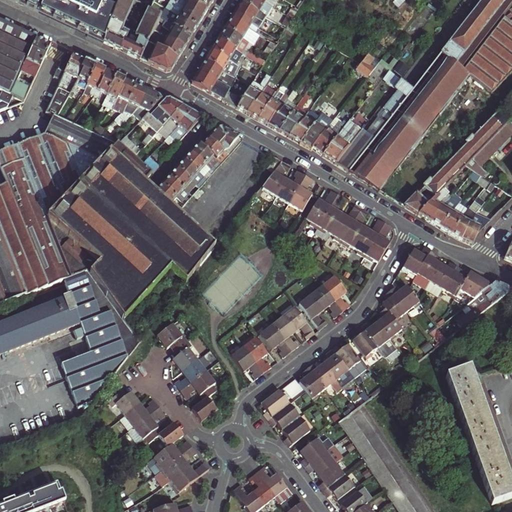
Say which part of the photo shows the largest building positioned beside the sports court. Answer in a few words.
left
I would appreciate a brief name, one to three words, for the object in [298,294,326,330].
house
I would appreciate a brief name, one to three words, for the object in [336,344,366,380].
house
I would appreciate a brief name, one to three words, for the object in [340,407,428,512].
shed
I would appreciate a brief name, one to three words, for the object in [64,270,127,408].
building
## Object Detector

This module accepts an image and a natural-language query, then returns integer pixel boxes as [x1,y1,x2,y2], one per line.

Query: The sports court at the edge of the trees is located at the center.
[204,255,262,316]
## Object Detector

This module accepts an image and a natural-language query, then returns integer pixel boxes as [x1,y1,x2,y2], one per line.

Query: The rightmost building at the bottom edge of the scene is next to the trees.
[446,360,512,505]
